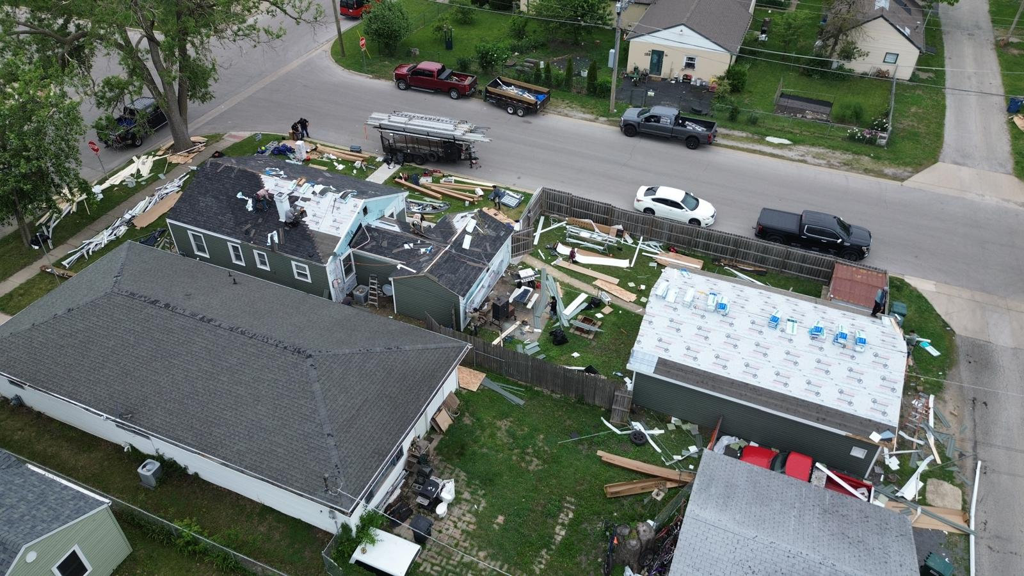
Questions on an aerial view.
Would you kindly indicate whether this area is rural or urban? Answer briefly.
urban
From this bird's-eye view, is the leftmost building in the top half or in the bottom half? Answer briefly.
bottom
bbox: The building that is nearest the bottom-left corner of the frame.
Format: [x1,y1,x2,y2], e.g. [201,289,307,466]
[0,449,130,576]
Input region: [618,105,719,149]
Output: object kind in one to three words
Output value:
truck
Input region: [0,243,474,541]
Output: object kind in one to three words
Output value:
house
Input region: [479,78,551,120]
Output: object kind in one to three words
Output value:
trailer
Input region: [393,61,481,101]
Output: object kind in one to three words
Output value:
truck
